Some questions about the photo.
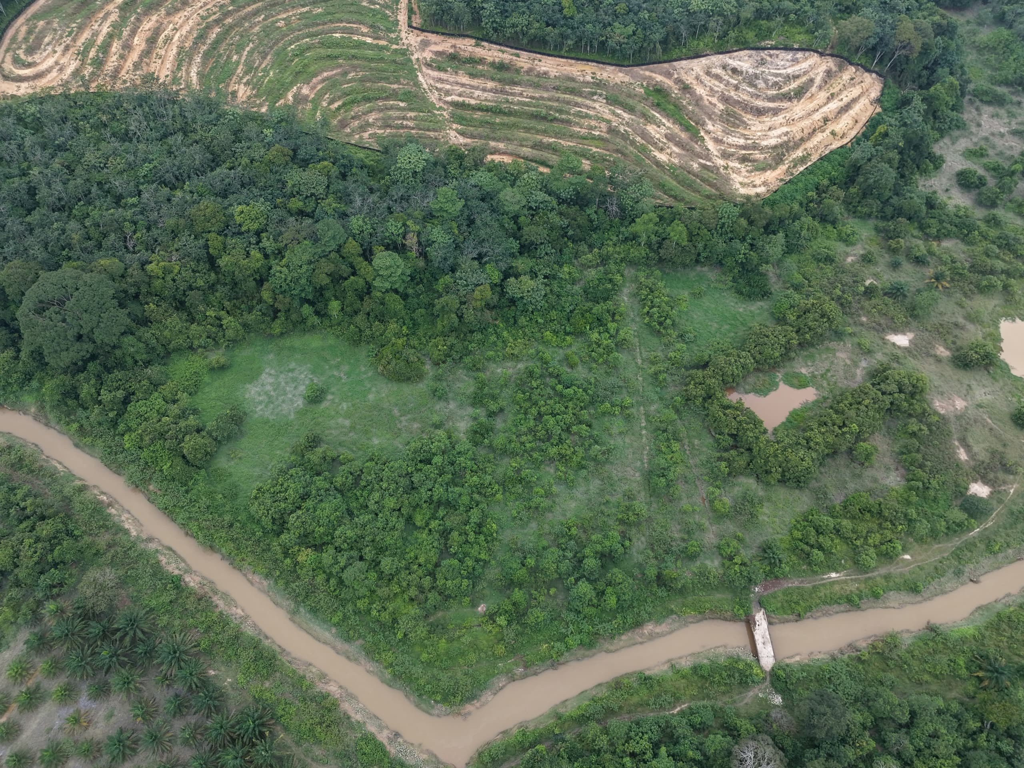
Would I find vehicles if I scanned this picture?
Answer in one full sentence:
No, there is no vehicle in the image.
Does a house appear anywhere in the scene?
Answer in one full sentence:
No, no house is visible in the scene.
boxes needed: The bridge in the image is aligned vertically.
[747,608,775,668]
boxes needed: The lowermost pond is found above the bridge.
[726,383,816,435]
